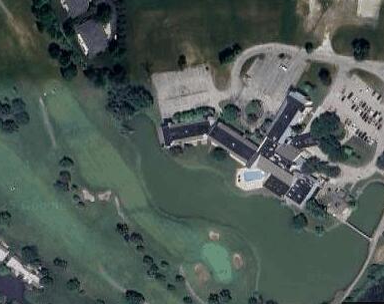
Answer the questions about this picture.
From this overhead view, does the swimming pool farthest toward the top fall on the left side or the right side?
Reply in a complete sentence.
The swimming pool farthest toward the top is on the right side of the image.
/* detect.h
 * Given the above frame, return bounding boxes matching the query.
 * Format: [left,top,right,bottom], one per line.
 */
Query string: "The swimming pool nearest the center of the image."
[235,167,268,190]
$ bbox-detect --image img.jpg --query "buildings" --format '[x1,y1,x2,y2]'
[156,90,319,206]
[75,17,111,60]
[5,252,43,291]
[59,0,93,22]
